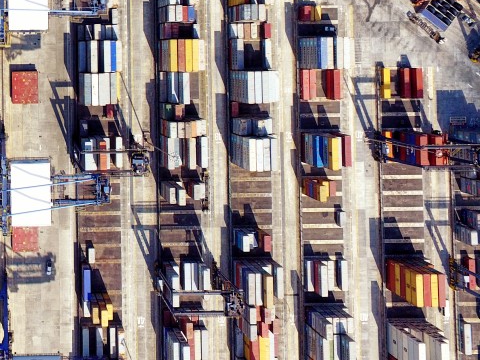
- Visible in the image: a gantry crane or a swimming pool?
gantry crane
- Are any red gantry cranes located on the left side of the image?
No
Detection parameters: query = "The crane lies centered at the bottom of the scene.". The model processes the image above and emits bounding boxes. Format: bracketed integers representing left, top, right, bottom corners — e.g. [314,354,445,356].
[154,261,247,321]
